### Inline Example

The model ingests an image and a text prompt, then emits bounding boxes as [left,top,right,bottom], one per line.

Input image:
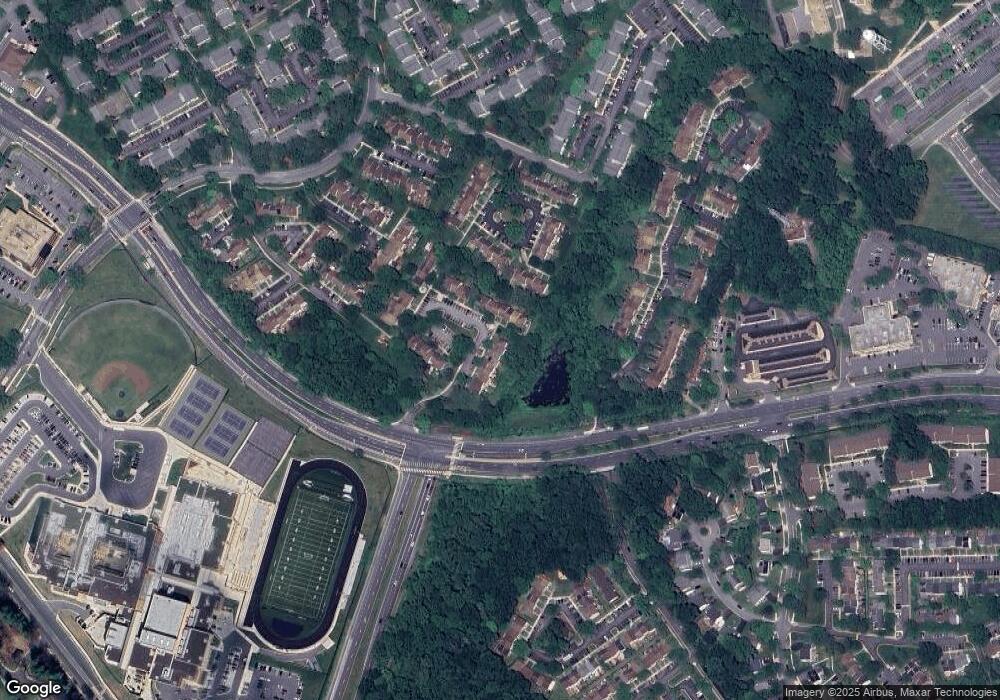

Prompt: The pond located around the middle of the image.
[519,350,569,406]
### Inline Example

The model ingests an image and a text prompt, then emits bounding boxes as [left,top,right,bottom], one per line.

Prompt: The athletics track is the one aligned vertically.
[245,459,365,649]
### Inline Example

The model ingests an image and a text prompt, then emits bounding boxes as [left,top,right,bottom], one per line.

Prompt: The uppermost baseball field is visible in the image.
[56,299,195,421]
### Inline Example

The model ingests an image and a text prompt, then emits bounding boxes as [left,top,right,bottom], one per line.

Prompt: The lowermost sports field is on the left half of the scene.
[263,471,354,638]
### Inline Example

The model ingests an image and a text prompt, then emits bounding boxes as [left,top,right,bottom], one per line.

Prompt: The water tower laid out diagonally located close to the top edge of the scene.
[864,27,896,57]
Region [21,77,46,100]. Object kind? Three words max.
building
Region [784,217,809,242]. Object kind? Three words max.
house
